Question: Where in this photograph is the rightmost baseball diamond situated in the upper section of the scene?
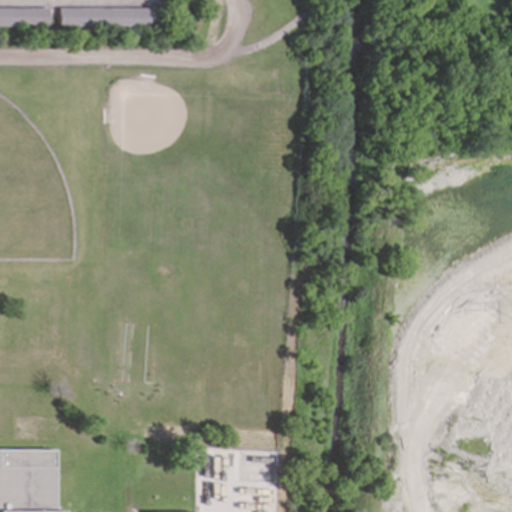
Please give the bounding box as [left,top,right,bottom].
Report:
[109,78,281,259]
